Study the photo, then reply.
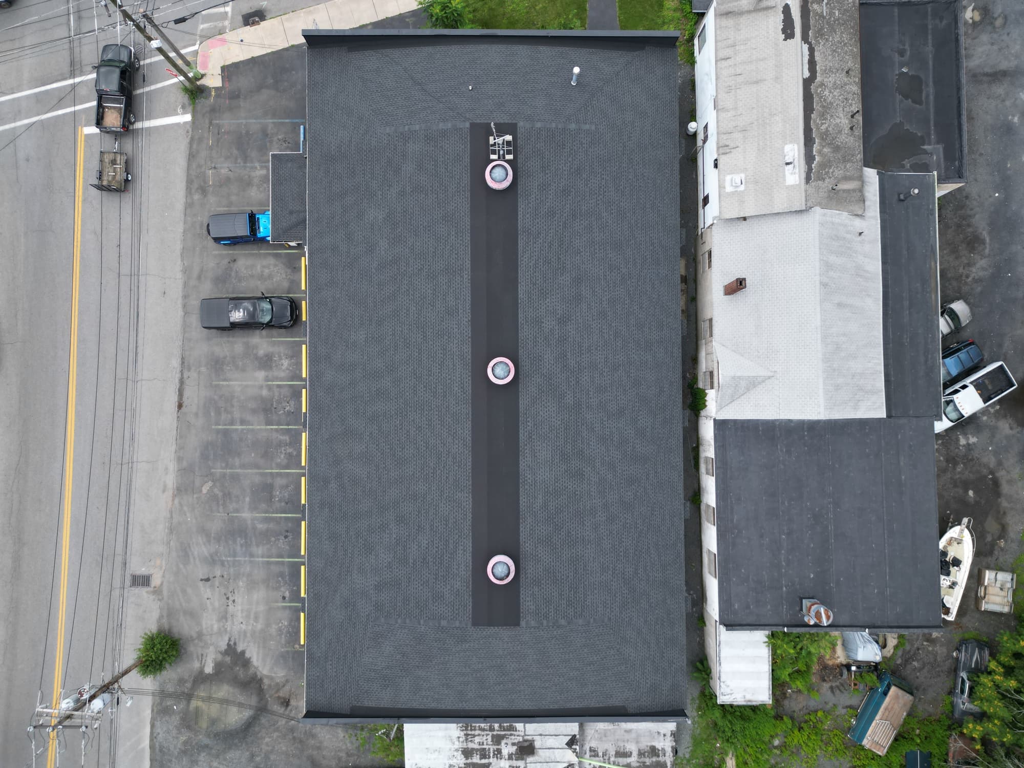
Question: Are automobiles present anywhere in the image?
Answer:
Yes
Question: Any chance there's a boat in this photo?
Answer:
Yes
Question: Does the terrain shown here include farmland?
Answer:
No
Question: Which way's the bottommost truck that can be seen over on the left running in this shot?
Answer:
from left to right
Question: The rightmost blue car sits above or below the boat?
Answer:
above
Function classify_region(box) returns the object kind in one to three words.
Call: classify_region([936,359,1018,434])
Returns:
truck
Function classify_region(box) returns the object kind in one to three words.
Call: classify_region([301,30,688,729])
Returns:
building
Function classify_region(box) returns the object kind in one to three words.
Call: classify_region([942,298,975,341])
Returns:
car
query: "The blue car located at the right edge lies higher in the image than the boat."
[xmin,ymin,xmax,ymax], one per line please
[943,340,987,392]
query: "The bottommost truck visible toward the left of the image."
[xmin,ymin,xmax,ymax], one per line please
[200,290,301,333]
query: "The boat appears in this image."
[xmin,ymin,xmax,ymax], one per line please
[940,516,983,622]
